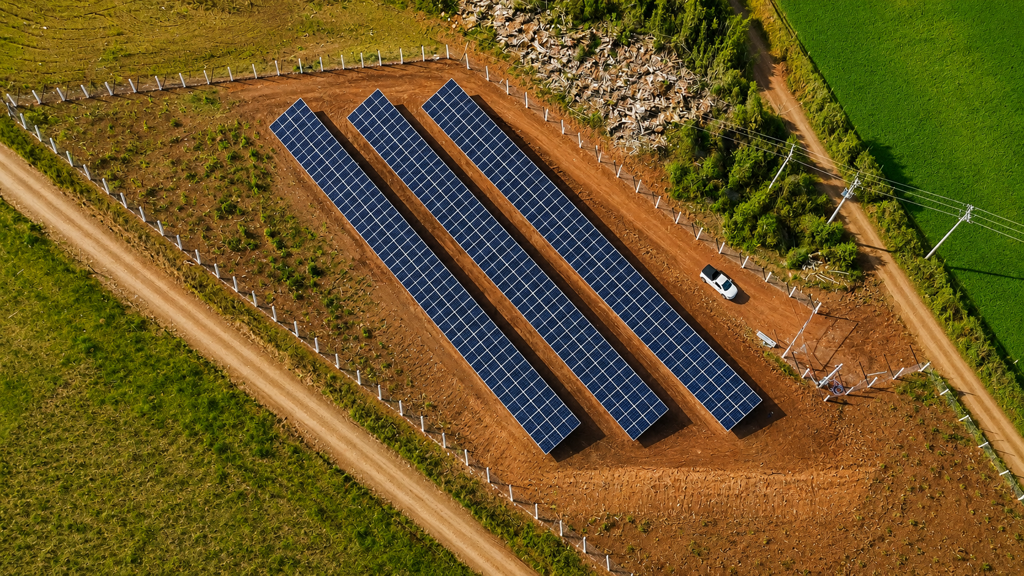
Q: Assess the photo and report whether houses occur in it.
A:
No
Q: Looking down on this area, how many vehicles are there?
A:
1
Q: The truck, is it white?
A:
Yes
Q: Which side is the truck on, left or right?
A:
right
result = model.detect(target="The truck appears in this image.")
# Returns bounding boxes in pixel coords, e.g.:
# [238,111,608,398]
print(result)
[698,263,739,300]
